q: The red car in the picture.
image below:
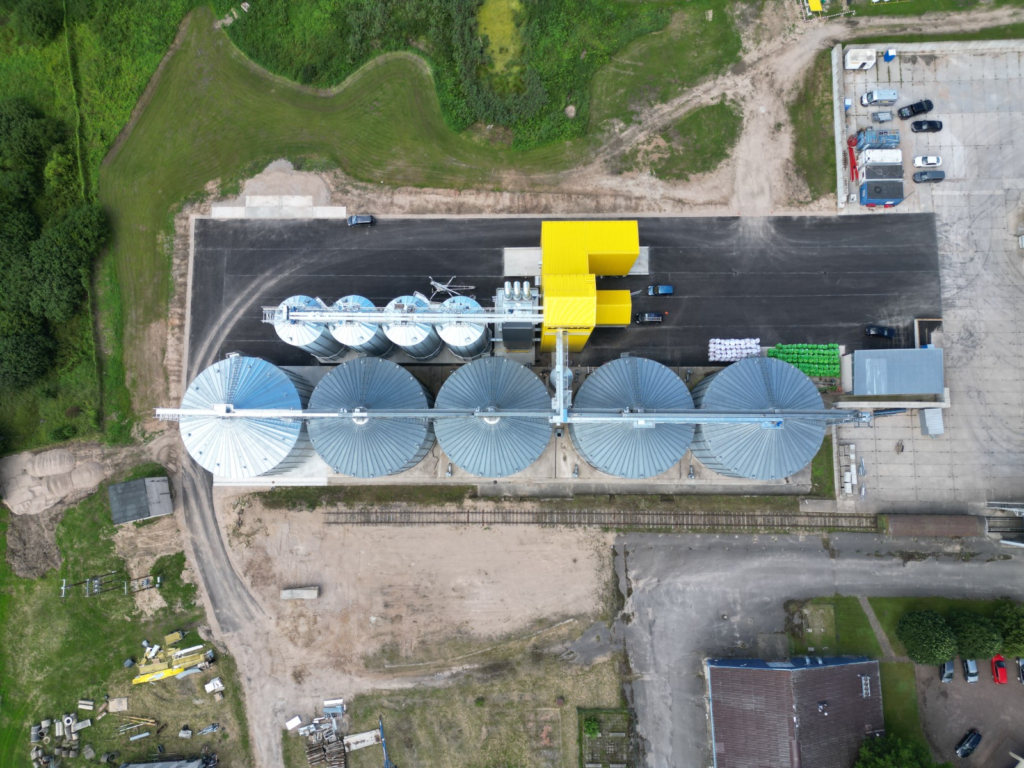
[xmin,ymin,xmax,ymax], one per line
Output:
[990,654,1011,684]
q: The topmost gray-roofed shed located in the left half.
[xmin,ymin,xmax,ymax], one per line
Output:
[109,477,181,526]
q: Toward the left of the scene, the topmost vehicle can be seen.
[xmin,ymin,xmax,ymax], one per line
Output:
[347,213,375,227]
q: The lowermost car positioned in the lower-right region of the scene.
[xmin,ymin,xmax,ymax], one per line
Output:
[954,728,985,760]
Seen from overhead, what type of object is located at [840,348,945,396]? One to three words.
shed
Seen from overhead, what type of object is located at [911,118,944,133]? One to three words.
car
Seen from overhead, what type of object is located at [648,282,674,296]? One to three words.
vehicle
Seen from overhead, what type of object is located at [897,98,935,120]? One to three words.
truck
